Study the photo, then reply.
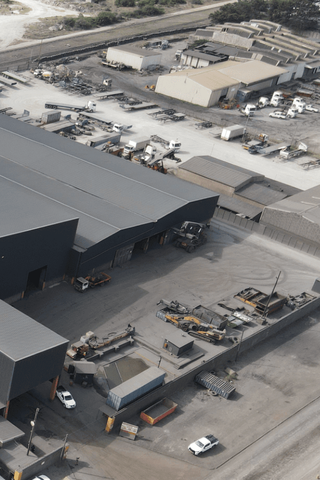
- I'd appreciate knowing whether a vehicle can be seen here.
Yes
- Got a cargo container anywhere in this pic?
Yes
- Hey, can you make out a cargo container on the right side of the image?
Yes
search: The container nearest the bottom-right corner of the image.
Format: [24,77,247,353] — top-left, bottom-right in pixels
[194,368,239,402]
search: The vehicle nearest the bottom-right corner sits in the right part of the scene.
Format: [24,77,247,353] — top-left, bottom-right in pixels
[188,432,218,458]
